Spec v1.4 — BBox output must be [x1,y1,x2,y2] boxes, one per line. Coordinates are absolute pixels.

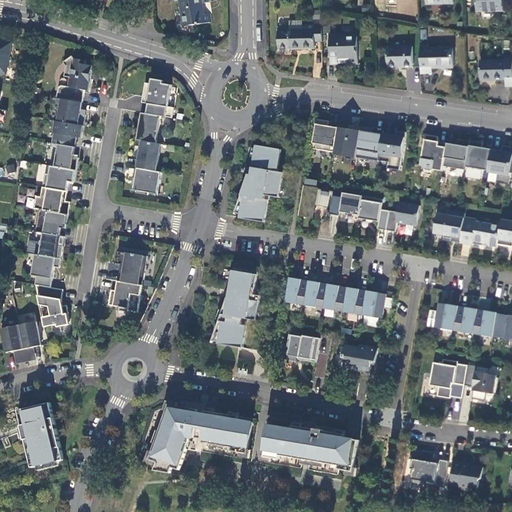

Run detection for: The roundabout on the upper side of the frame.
[205,64,267,126]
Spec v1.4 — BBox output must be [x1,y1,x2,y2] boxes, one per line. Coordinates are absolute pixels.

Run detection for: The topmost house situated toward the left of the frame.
[180,0,213,28]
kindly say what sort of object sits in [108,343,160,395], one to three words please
roundabout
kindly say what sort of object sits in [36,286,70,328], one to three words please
house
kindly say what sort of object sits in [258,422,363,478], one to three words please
building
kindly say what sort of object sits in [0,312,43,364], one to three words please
house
